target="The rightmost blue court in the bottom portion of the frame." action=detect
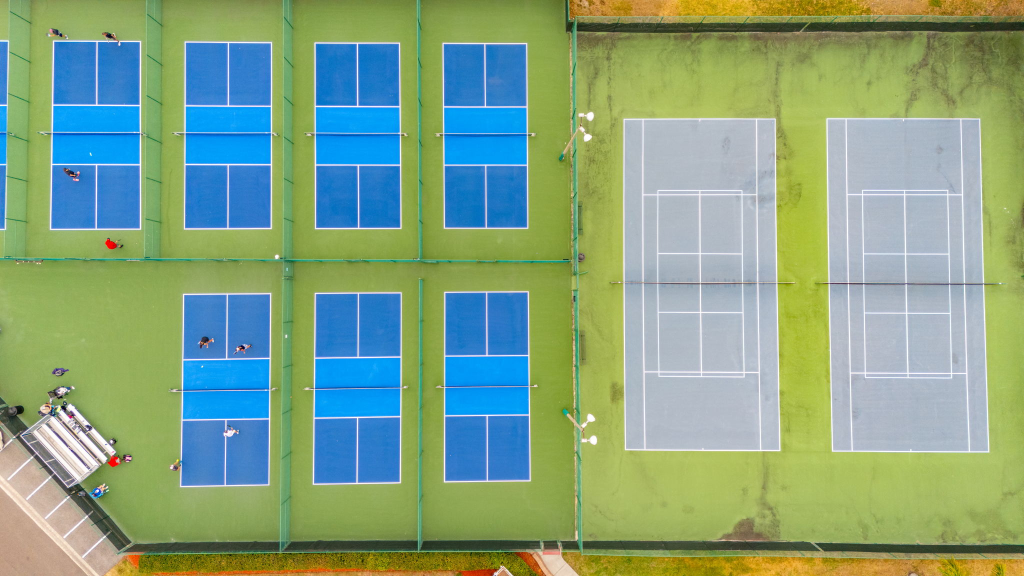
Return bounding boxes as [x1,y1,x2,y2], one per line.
[445,292,529,482]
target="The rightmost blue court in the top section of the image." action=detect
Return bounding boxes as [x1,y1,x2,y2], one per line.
[443,43,528,229]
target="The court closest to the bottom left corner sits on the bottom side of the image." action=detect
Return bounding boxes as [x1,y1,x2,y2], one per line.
[181,294,271,486]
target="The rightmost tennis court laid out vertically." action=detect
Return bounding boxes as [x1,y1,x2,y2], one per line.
[827,118,989,452]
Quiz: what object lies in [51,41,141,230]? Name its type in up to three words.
sports court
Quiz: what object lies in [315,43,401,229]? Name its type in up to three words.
sports court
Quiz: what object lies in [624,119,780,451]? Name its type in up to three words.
tennis court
